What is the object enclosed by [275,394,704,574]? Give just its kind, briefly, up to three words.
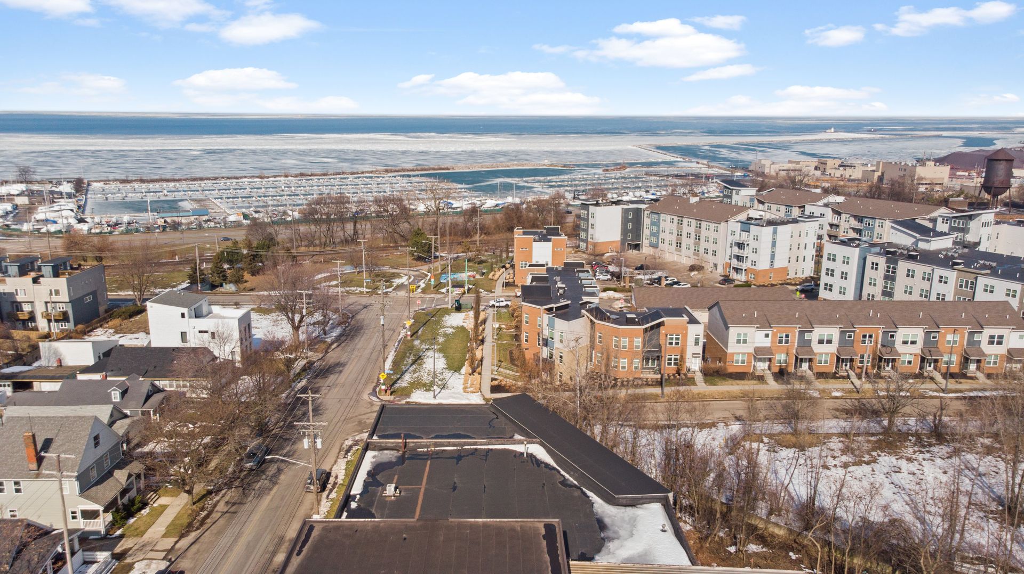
building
